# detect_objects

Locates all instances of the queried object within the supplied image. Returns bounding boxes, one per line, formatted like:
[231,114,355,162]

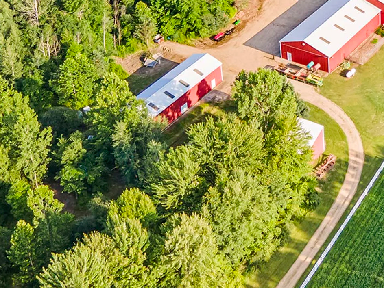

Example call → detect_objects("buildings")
[270,115,326,161]
[279,0,382,73]
[132,52,223,134]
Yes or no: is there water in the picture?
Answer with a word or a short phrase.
No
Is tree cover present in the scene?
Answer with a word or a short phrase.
Yes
